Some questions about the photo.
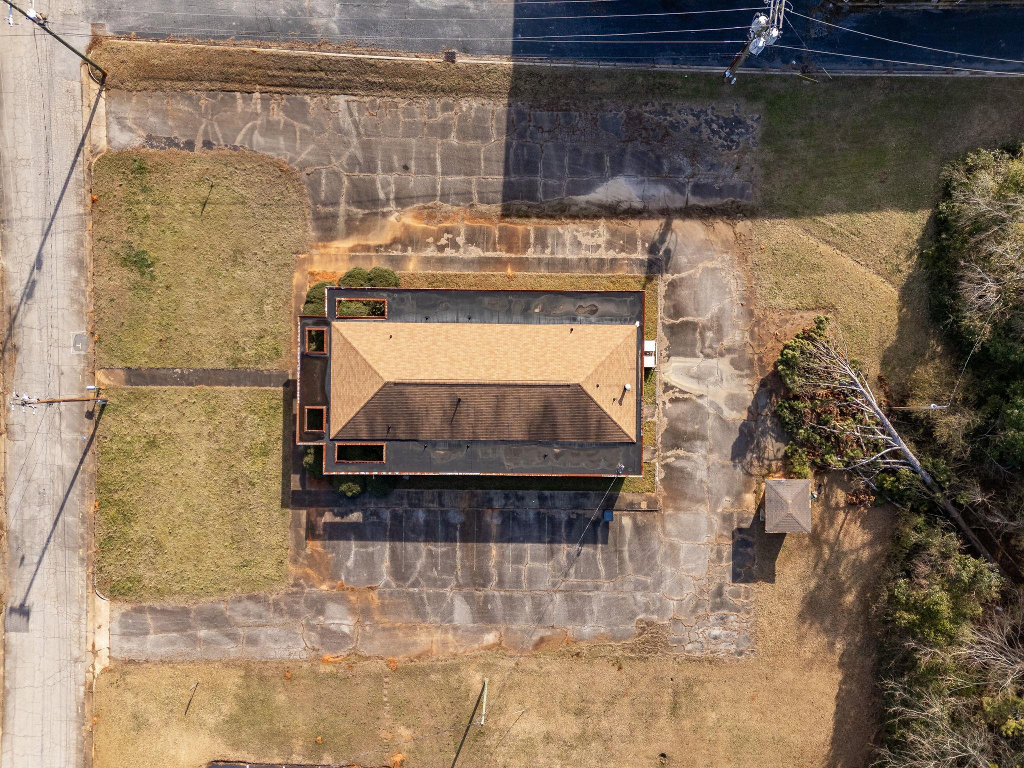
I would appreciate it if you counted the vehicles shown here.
0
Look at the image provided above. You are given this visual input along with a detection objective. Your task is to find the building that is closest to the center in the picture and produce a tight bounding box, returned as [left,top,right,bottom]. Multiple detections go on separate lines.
[297,288,644,477]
